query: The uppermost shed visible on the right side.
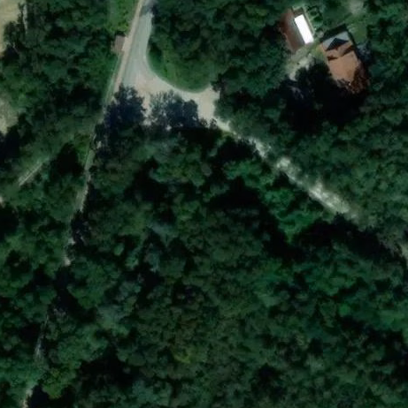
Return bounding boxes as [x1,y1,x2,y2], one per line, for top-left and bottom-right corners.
[278,7,314,52]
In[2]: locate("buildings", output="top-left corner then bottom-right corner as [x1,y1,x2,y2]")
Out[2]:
[319,27,367,85]
[278,7,314,52]
[110,34,126,51]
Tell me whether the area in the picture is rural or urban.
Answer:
rural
